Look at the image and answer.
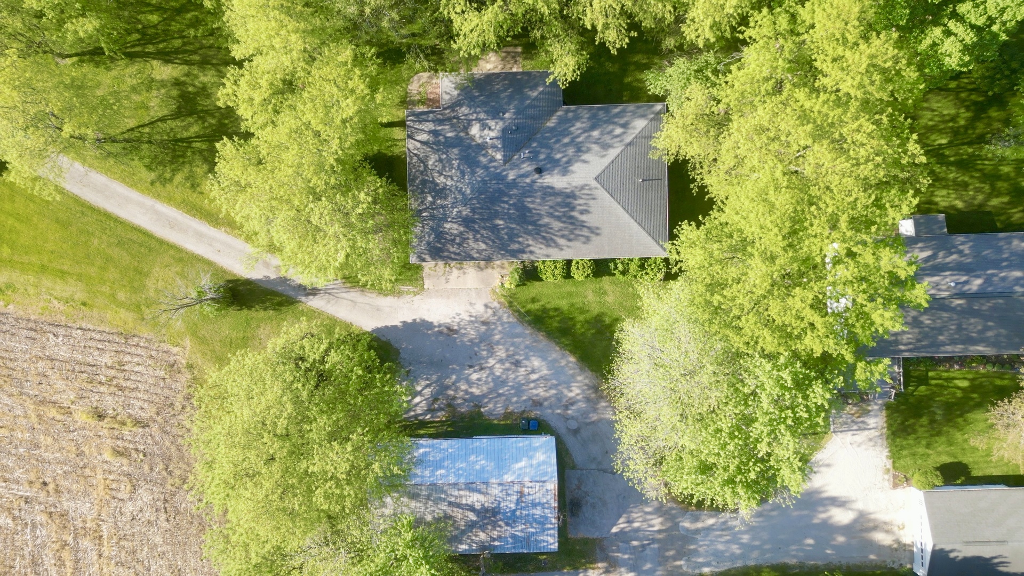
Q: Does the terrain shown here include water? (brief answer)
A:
No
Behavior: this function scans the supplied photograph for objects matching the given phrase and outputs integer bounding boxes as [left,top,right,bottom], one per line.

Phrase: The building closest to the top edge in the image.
[405,69,670,264]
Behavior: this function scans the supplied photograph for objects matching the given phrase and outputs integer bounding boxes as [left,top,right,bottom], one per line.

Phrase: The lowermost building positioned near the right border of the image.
[912,483,1024,576]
